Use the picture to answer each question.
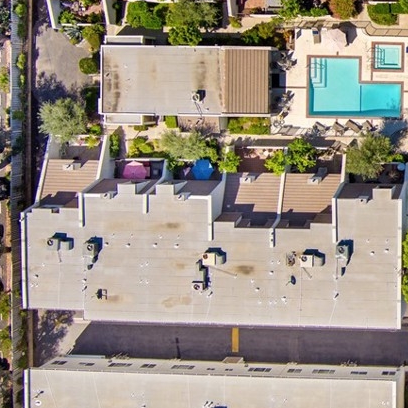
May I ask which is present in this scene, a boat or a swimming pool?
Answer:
swimming pool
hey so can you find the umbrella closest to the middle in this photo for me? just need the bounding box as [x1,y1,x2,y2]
[193,158,216,178]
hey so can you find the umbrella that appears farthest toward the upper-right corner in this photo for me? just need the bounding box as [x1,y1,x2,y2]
[324,22,351,50]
